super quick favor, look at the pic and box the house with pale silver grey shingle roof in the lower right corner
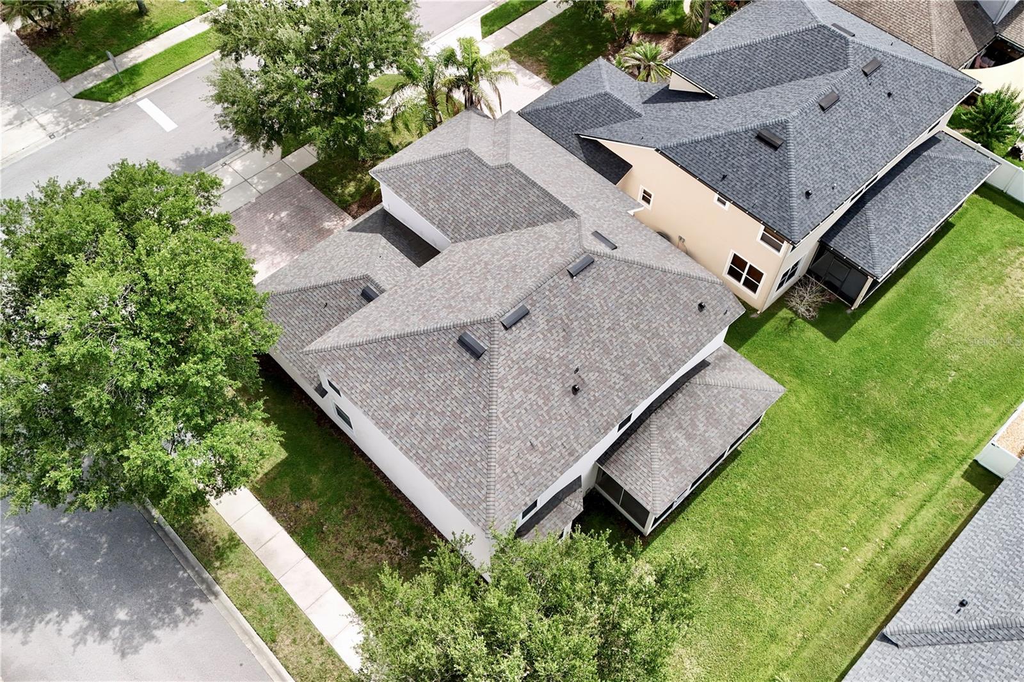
[834,461,1024,682]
